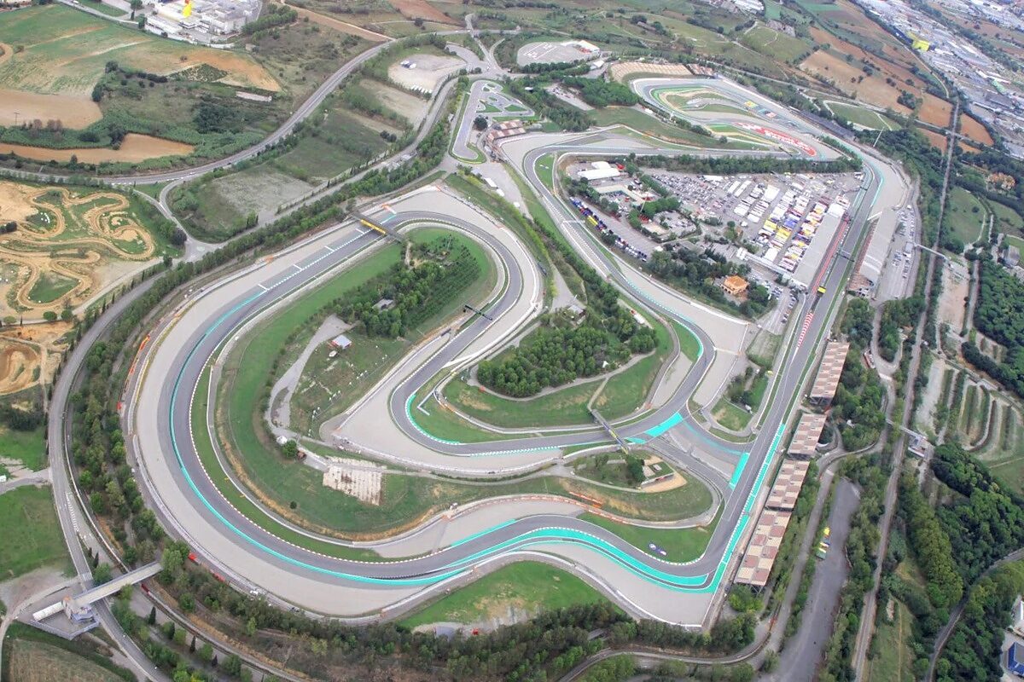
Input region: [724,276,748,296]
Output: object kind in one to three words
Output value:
house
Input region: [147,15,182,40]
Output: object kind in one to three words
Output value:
building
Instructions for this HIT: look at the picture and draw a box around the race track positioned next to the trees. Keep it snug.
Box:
[176,78,882,578]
